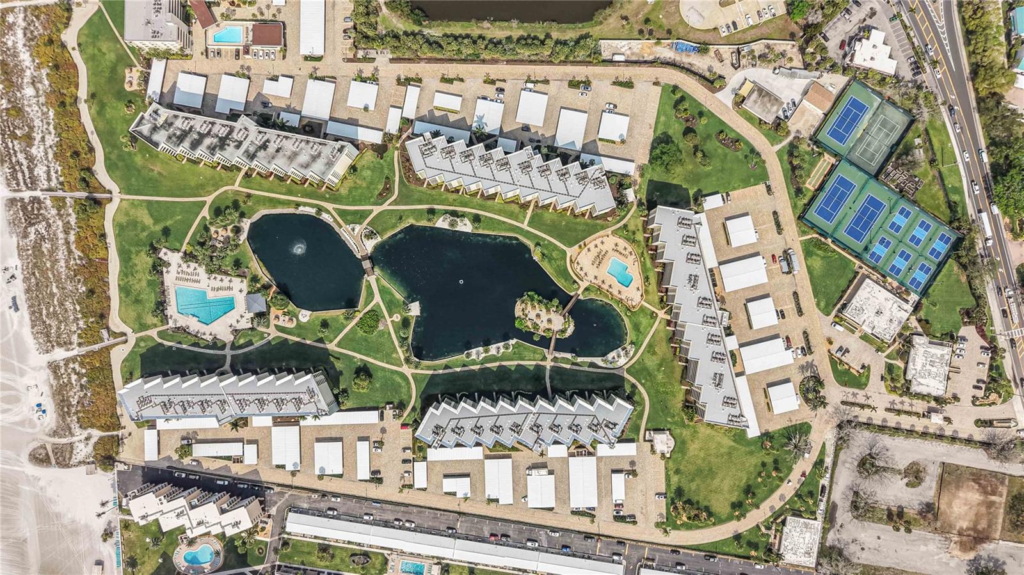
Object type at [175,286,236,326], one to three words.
swimming pool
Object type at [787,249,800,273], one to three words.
vehicle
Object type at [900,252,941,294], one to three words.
sports court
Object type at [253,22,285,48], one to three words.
building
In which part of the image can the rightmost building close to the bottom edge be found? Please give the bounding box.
[777,515,821,567]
